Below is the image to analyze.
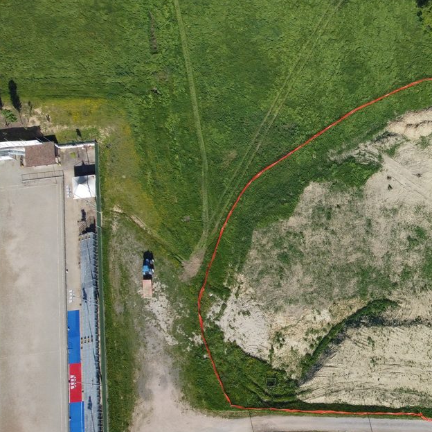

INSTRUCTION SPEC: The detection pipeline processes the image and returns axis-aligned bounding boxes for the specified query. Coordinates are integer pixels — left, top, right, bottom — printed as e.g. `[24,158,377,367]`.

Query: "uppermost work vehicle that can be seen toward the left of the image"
[138,258,152,277]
